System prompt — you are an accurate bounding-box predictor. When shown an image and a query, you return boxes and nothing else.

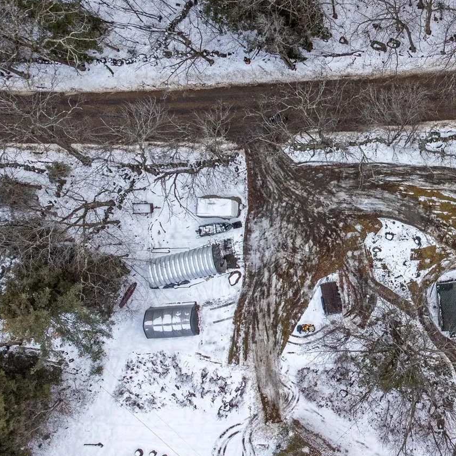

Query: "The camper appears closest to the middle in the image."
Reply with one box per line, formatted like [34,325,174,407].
[189,192,245,222]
